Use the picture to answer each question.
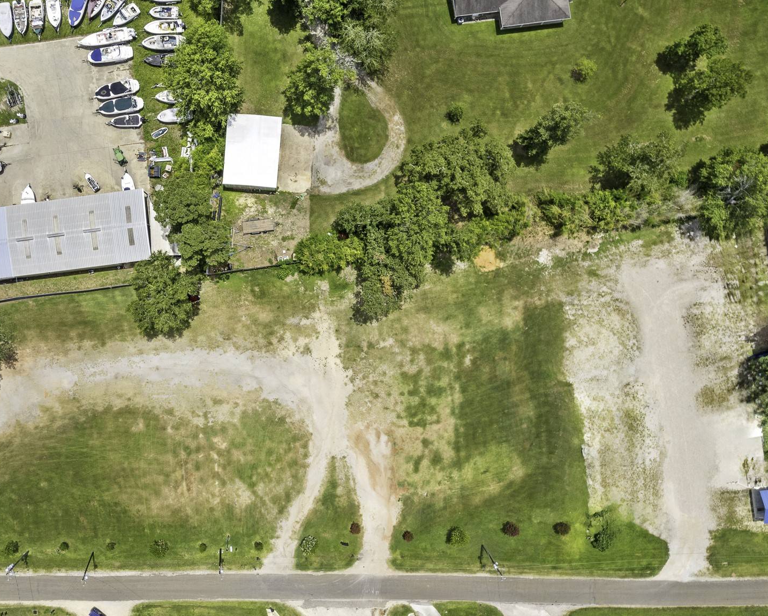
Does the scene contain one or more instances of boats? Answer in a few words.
Yes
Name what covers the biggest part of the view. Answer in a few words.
grass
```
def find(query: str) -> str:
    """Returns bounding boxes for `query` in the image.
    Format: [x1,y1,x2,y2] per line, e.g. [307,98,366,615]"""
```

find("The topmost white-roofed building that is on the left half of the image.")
[223,114,282,189]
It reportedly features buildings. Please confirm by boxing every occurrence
[0,189,153,280]
[223,114,282,189]
[754,487,768,524]
[452,0,573,31]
